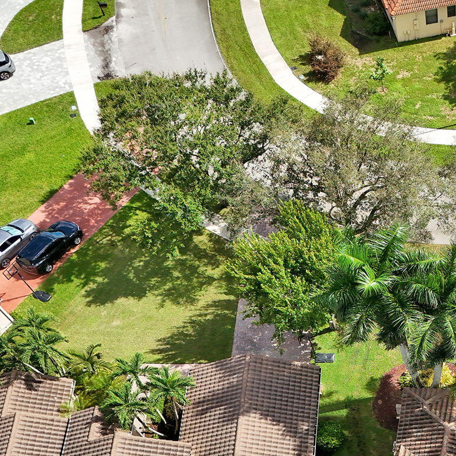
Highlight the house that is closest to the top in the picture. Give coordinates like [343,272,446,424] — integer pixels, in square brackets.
[382,0,456,42]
